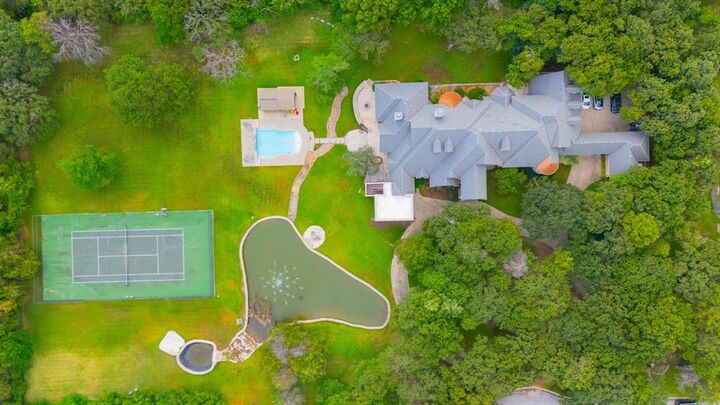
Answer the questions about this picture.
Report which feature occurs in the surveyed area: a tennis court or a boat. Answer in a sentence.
I can see a tennis court in this picture.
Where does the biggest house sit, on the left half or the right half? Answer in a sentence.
The biggest house sits on the right side.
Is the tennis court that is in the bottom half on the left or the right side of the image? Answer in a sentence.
The tennis court that is in the bottom half appears in the left half of the scene.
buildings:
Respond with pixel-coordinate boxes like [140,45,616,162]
[366,71,650,221]
[259,89,295,110]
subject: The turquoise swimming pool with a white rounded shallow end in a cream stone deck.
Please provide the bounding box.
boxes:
[240,85,315,167]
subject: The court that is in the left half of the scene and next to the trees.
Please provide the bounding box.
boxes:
[42,210,210,301]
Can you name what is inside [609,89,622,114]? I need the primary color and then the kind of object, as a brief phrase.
black vehicle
